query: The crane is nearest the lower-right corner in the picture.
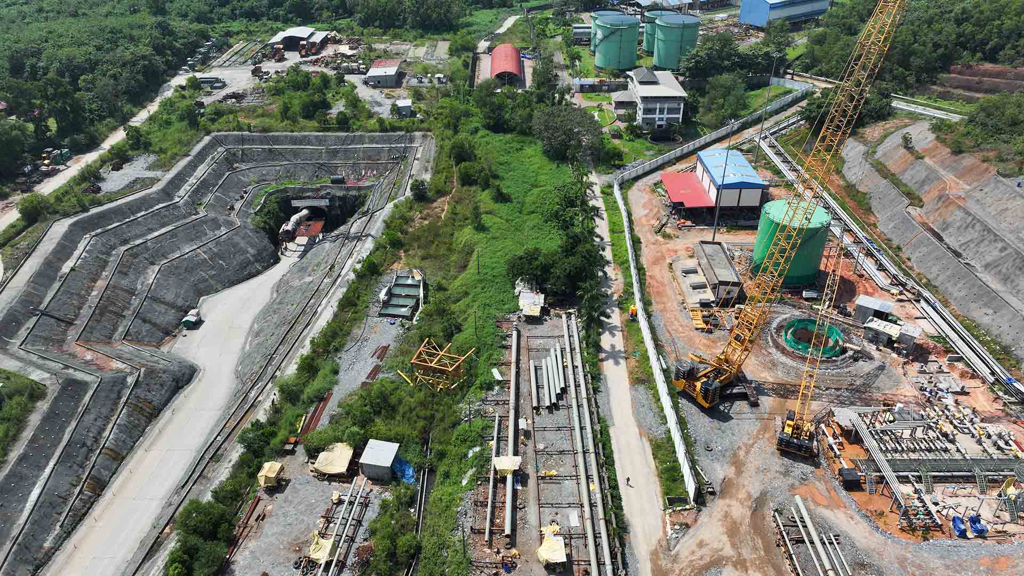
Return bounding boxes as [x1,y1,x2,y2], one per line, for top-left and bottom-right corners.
[778,241,835,457]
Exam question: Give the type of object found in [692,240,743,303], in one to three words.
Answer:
building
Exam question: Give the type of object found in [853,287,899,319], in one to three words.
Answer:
shed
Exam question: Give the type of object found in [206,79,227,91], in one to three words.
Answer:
vehicle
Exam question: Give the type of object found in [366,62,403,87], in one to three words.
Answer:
building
